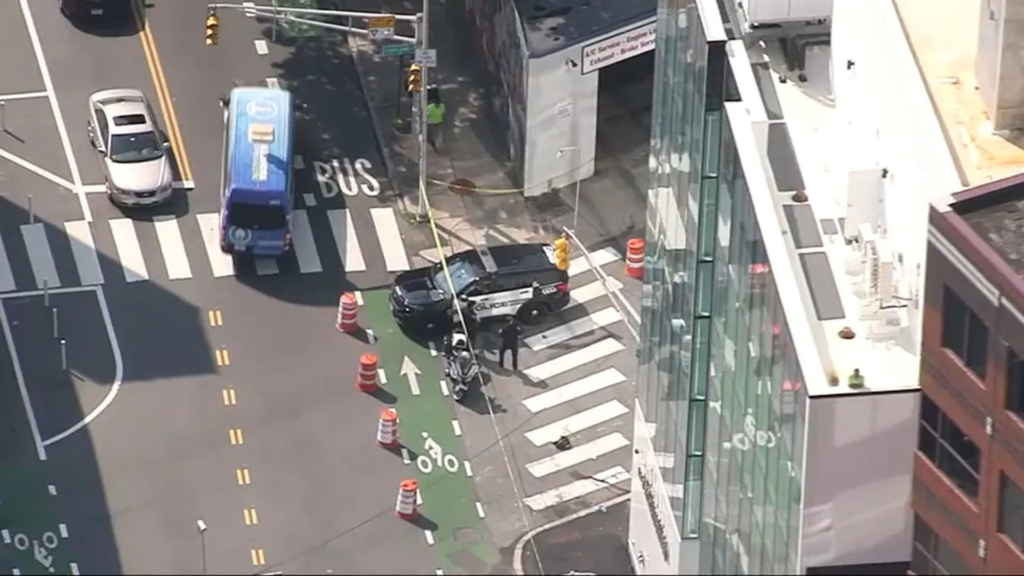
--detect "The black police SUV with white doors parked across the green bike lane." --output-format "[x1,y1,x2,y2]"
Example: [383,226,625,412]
[388,238,568,342]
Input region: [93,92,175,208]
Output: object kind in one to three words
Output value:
car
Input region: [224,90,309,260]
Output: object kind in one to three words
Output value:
van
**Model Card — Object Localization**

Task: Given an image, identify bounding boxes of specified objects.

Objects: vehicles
[62,0,130,22]
[224,90,309,260]
[388,238,568,342]
[93,92,175,208]
[437,315,482,403]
